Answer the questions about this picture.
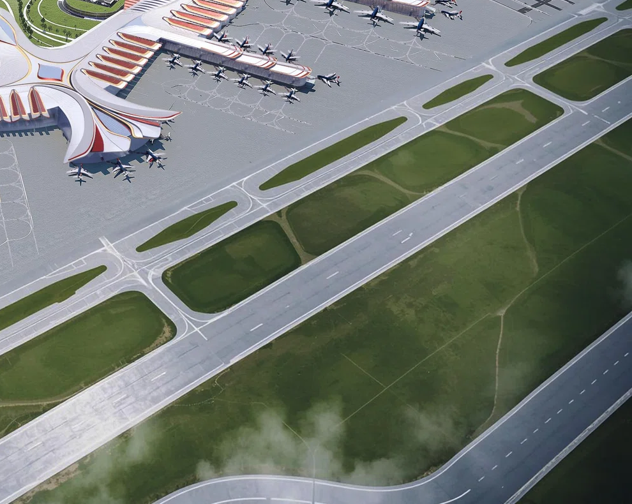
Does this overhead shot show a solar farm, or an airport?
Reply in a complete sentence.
The picture captures an airport.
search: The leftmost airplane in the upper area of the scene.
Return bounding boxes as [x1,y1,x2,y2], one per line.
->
[68,164,92,180]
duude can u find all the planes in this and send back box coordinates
[209,67,230,79]
[68,164,92,180]
[314,0,350,10]
[162,116,186,129]
[259,40,276,54]
[146,151,166,164]
[317,73,341,84]
[254,80,275,92]
[218,28,233,42]
[163,54,183,65]
[278,89,300,101]
[233,74,251,86]
[281,48,297,60]
[357,5,394,22]
[401,17,440,34]
[236,34,256,48]
[114,158,135,172]
[184,61,206,72]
